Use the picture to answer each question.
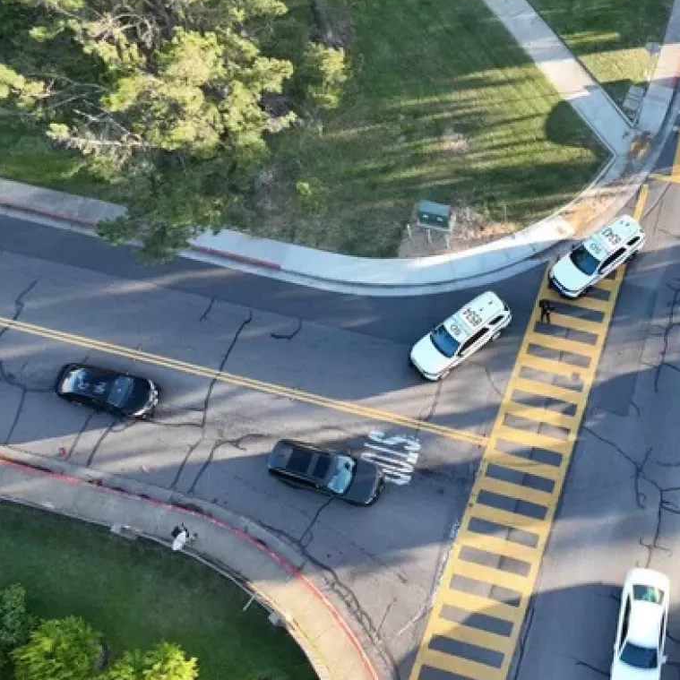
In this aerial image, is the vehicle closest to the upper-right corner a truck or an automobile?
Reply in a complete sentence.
Looking closely, the vehicle closest to the upper-right corner is an automobile.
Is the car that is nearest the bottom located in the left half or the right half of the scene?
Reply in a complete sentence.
The car that is nearest the bottom sits on the right side.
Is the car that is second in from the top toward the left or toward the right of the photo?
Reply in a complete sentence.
The car that is second in from the top appears in the right half of the scene.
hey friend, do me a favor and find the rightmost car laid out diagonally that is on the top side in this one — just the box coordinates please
[552,215,651,300]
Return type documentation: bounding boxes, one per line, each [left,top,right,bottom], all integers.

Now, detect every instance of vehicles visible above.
[552,215,651,300]
[611,569,670,680]
[410,291,516,382]
[48,366,166,422]
[263,439,386,511]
